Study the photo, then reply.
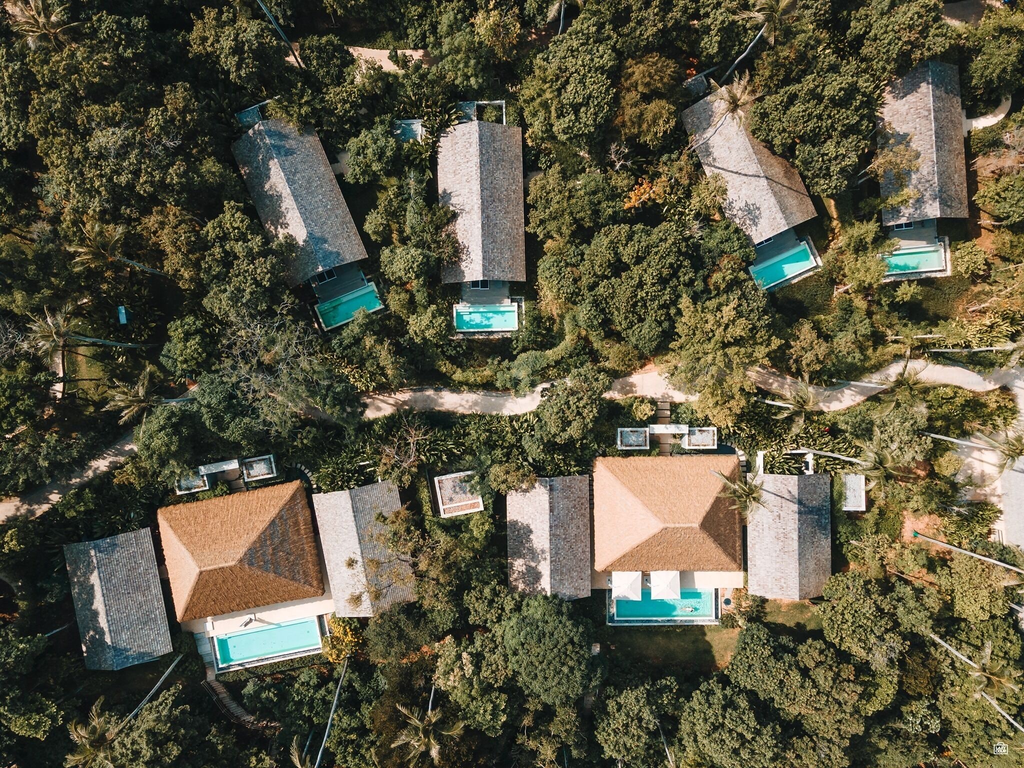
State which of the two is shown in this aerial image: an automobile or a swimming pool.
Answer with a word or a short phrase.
swimming pool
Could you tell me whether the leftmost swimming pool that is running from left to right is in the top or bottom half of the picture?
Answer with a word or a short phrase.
bottom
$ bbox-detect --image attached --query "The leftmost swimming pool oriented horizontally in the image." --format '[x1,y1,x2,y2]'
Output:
[213,613,324,667]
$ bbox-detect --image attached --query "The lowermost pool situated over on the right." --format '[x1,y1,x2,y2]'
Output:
[614,586,714,619]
